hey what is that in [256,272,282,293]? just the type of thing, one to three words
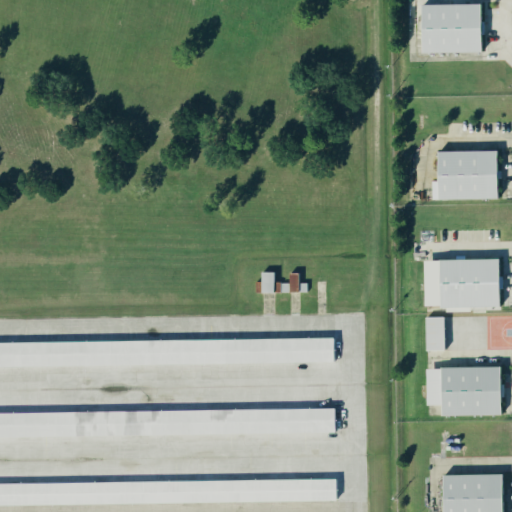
barn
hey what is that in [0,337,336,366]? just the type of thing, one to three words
building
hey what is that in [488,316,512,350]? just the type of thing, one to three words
basketball court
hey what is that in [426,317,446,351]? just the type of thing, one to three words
shed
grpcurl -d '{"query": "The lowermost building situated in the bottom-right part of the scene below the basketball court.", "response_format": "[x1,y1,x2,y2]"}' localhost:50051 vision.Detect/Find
[442,474,508,512]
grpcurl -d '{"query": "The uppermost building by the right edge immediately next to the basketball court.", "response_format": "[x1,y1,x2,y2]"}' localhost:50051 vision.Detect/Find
[424,256,504,312]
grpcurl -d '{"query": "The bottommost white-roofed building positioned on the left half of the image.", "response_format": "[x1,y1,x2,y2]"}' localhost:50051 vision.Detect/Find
[0,478,338,506]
